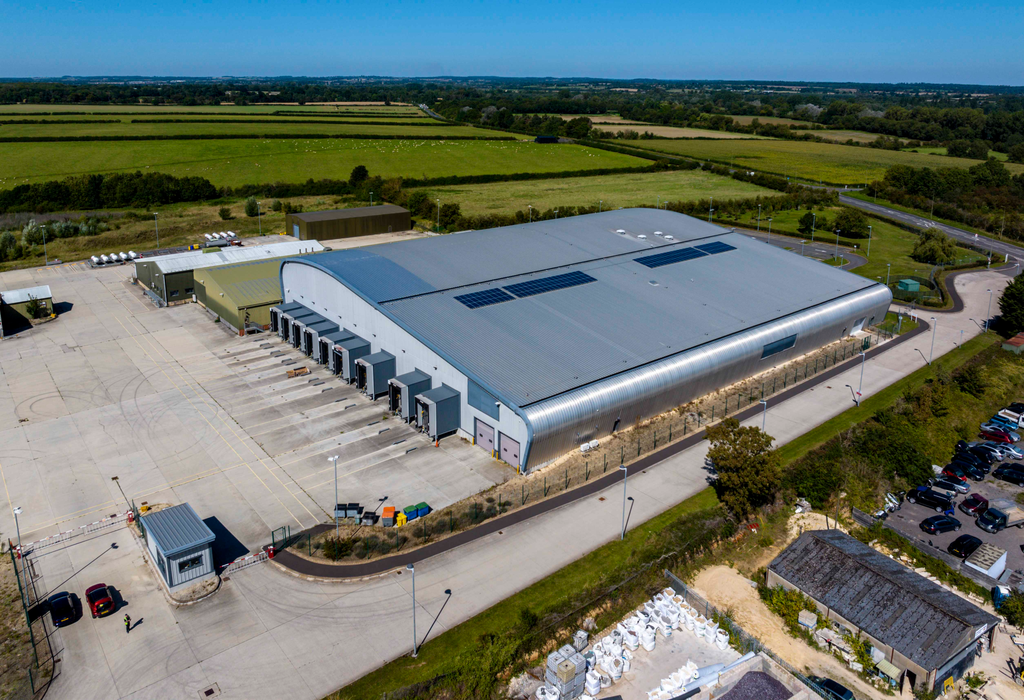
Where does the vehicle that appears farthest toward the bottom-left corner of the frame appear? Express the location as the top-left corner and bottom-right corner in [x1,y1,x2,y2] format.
[44,586,77,624]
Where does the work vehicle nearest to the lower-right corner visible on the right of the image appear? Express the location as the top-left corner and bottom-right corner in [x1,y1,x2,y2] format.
[1000,648,1024,683]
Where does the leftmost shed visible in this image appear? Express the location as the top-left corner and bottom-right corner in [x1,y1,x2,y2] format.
[0,285,53,322]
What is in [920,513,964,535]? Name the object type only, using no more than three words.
car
